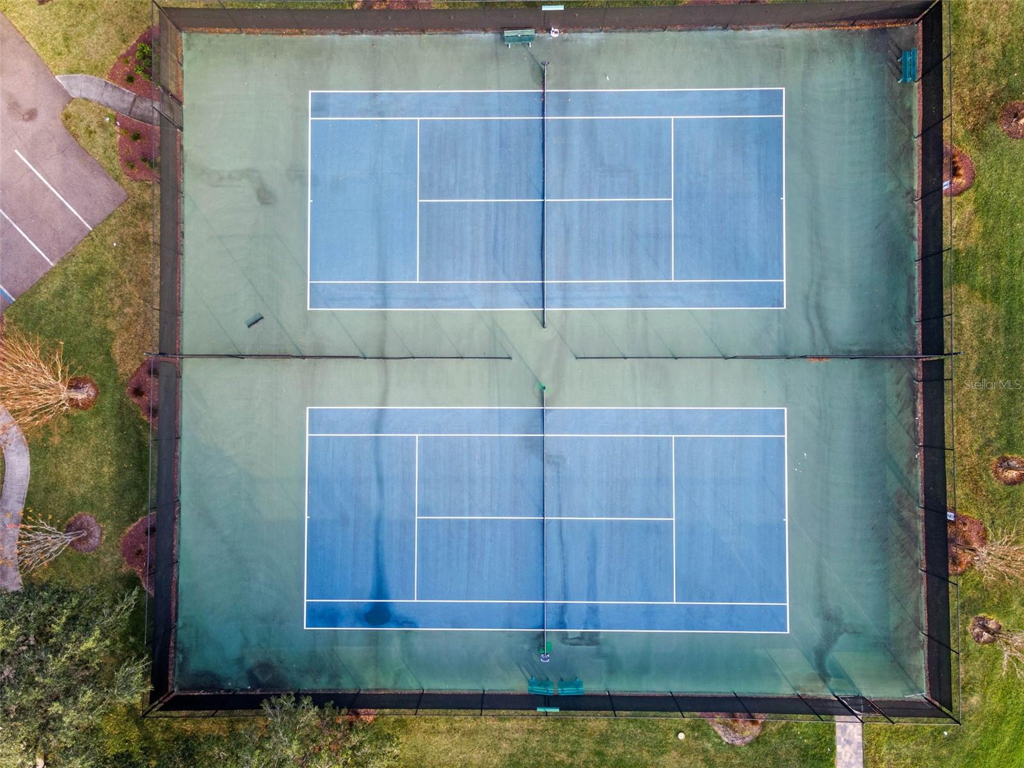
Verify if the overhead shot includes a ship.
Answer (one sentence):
No, the scene contains no ship.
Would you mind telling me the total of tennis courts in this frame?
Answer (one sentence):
The photo contains 2 tennis courts.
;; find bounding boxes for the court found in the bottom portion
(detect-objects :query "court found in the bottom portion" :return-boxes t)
[306,408,788,632]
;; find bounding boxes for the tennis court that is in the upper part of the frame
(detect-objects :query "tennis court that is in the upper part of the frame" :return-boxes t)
[308,89,786,309]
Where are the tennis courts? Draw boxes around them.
[306,408,788,632]
[308,89,786,309]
